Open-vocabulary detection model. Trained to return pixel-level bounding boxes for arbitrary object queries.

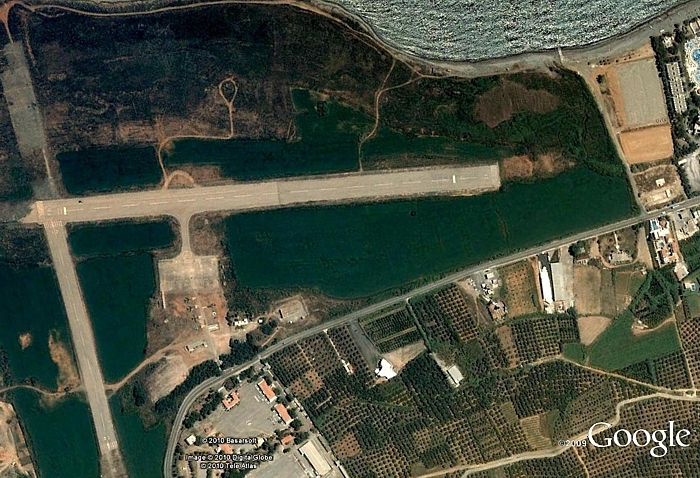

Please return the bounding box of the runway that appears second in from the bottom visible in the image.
[21,161,500,224]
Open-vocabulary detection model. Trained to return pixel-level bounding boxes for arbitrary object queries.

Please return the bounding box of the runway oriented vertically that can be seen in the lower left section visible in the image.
[44,220,126,478]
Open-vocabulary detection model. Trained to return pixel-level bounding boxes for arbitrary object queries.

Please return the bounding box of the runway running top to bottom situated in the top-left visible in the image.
[2,41,44,152]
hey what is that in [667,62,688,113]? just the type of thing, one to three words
building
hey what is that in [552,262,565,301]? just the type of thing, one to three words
shed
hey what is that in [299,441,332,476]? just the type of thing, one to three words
building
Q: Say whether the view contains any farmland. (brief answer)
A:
Yes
